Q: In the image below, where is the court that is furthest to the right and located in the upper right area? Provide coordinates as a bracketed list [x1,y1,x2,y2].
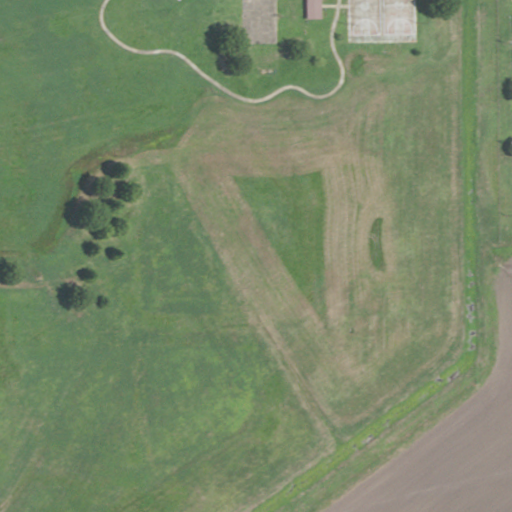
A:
[385,0,415,36]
